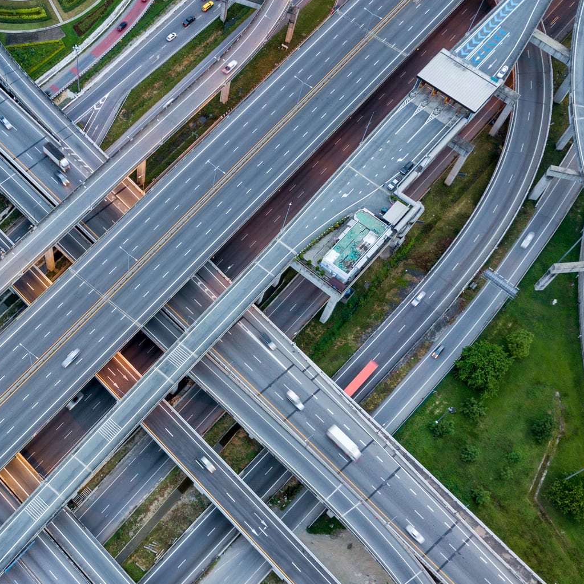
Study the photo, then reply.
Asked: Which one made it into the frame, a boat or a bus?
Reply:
bus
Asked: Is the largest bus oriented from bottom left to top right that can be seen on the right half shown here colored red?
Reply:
Yes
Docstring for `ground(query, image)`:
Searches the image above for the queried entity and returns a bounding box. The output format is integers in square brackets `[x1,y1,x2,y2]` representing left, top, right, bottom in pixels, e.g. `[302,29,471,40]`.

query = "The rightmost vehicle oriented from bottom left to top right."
[522,228,537,246]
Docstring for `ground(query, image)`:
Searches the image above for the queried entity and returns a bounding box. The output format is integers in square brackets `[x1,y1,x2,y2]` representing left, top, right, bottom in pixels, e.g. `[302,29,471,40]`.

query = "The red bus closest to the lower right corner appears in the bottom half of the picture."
[342,352,385,395]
